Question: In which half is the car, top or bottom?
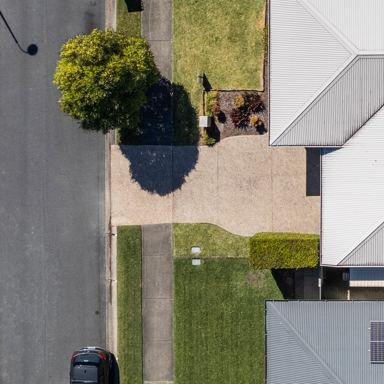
bottom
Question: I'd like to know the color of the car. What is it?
black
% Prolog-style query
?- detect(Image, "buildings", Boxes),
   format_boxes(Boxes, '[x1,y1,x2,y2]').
[268,0,384,268]
[266,299,384,384]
